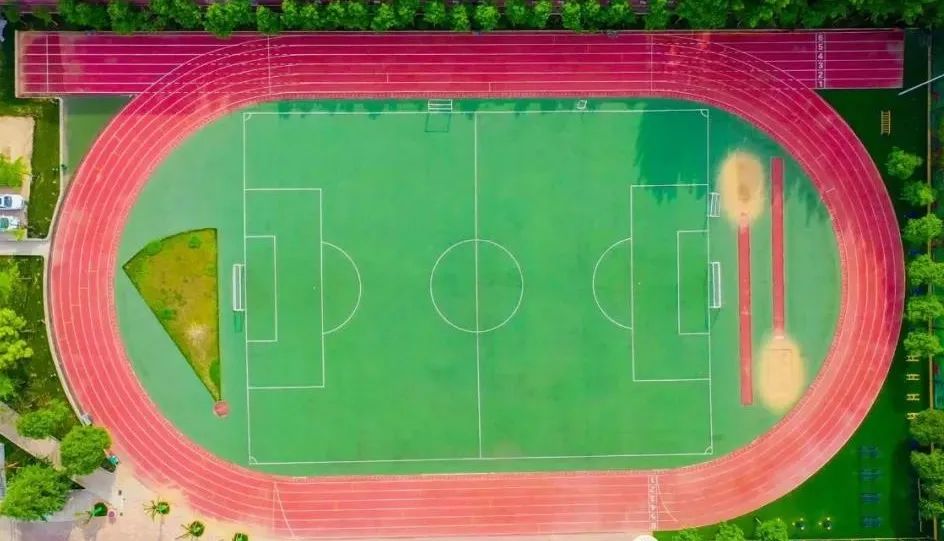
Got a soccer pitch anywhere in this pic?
Yes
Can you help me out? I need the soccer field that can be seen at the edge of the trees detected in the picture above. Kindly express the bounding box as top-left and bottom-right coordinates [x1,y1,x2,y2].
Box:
[244,110,712,463]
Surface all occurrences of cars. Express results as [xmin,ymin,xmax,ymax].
[0,192,28,209]
[0,213,23,229]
